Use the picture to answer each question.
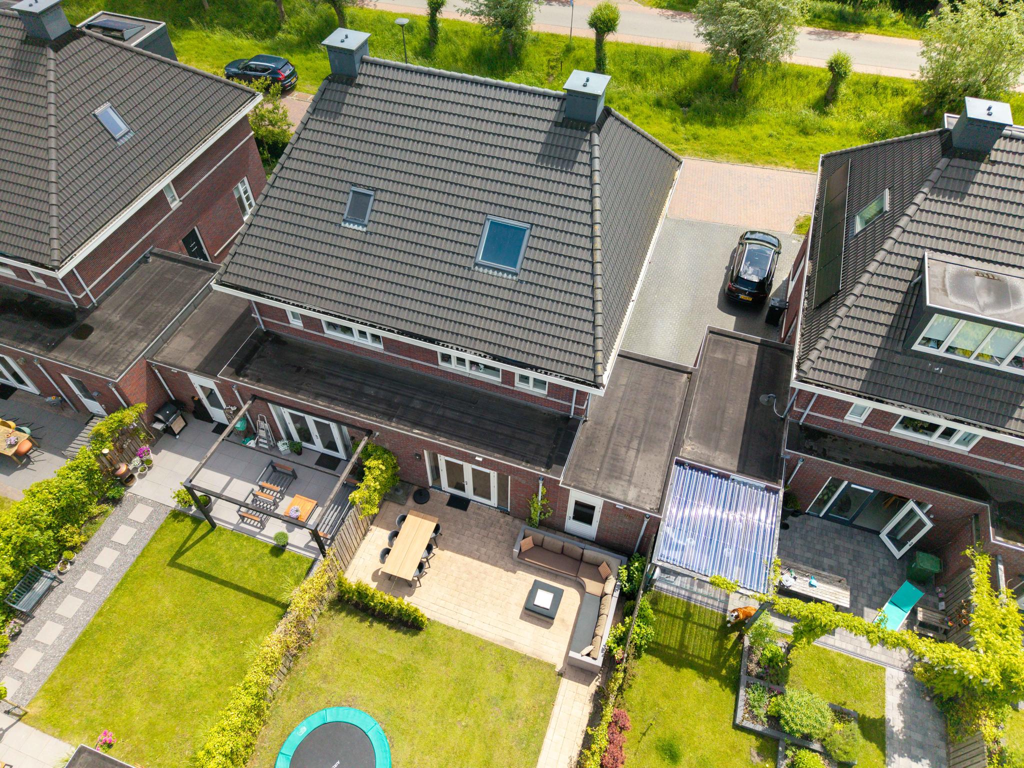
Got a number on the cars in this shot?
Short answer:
2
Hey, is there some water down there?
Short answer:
No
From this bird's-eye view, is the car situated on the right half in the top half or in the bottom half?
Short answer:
top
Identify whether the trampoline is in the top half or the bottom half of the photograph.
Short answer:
bottom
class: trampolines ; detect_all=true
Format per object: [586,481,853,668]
[275,707,392,768]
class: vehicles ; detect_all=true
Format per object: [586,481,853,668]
[726,231,783,305]
[226,52,301,96]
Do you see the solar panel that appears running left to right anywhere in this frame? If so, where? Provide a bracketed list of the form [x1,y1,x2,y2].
[86,11,140,39]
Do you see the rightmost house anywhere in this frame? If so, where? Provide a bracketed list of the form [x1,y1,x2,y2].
[770,97,1024,608]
